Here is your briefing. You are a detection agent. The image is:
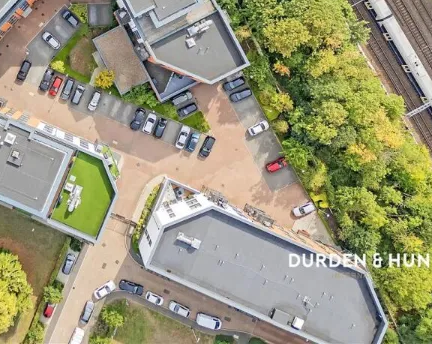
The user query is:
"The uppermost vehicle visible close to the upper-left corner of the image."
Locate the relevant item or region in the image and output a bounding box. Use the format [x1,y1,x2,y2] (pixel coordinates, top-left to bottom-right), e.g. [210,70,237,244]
[61,8,80,28]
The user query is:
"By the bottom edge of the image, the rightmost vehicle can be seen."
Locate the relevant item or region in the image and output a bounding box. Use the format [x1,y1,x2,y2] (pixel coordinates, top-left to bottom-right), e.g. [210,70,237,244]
[196,313,222,331]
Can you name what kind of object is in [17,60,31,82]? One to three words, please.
vehicle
